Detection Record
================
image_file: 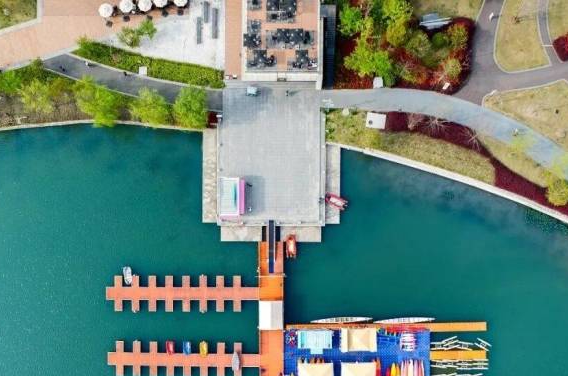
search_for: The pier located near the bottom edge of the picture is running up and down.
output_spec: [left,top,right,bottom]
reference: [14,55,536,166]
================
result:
[257,241,285,376]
